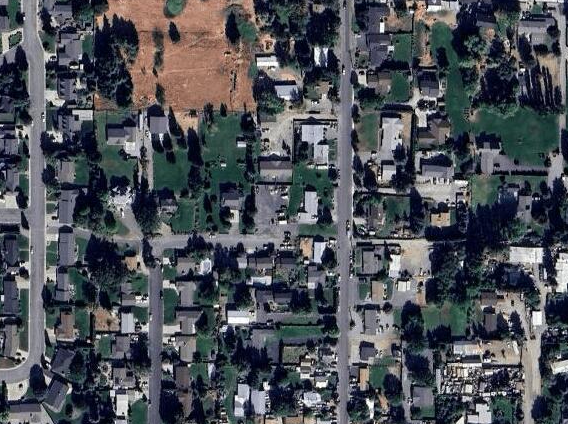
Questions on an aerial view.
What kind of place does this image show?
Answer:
residential area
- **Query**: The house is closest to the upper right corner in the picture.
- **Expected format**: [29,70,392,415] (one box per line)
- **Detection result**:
[518,17,554,44]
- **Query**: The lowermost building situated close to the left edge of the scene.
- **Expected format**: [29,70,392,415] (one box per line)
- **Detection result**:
[7,403,41,422]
